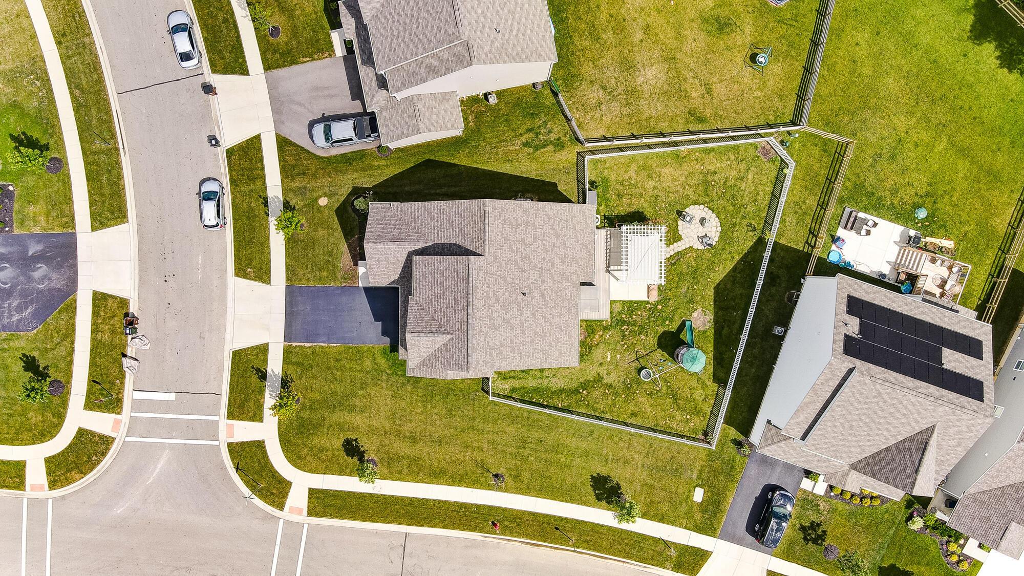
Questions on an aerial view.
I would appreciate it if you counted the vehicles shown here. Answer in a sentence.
In total, there are 4 vehicles in the scene.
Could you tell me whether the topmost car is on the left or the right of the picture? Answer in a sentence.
It is on the left.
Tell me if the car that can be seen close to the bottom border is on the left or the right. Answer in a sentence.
The car that can be seen close to the bottom border sits on the right side.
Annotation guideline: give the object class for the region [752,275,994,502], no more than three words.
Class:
house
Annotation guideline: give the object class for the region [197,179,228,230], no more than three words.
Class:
car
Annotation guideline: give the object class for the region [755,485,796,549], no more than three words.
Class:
car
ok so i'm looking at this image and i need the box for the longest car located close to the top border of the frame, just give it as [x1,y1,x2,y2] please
[167,10,202,69]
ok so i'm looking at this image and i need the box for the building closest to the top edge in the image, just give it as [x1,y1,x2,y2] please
[338,0,558,149]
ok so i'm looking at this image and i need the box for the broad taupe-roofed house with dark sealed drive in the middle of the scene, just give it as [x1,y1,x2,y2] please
[364,199,597,379]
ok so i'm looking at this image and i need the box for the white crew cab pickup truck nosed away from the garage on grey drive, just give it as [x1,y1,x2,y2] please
[311,116,381,147]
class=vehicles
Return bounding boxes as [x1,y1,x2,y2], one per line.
[197,179,228,230]
[755,485,796,549]
[311,116,381,147]
[167,10,202,69]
